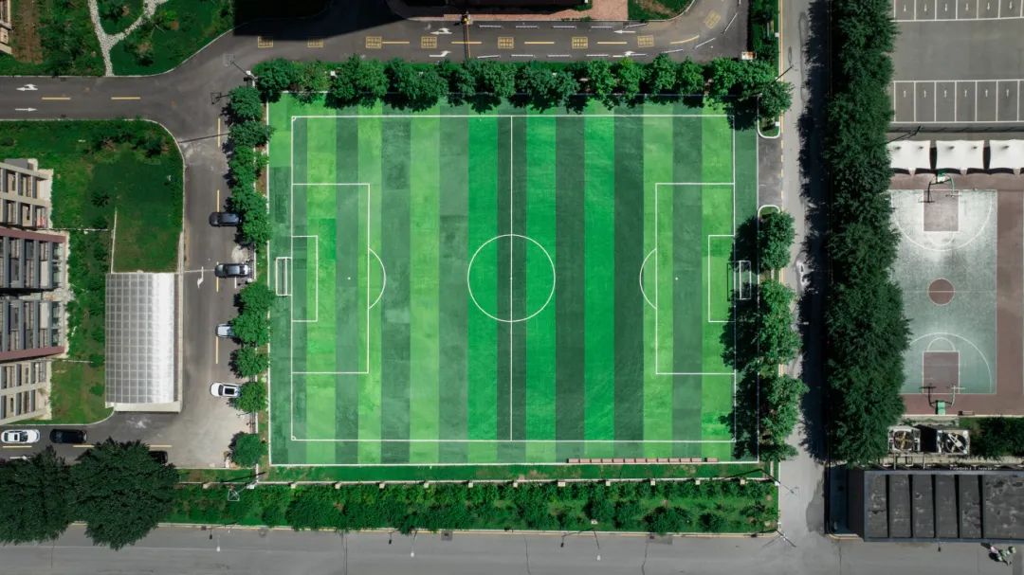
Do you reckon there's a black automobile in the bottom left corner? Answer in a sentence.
Yes, a black automobile is visible in the bottom left corner.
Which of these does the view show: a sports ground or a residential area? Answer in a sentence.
It's a sports ground.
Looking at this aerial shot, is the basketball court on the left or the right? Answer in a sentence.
The basketball court appears in the right half of the scene.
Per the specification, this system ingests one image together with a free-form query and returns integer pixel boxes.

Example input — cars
[210,381,245,398]
[216,262,252,279]
[209,210,244,227]
[2,429,40,446]
[217,323,234,339]
[50,429,88,446]
[137,449,173,464]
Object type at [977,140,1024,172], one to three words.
tent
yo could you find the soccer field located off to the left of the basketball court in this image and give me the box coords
[270,94,758,465]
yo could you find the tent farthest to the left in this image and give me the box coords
[887,140,930,172]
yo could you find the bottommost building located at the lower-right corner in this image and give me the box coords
[849,461,1024,552]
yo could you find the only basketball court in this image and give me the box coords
[878,170,1024,415]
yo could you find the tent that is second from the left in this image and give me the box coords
[926,140,983,172]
